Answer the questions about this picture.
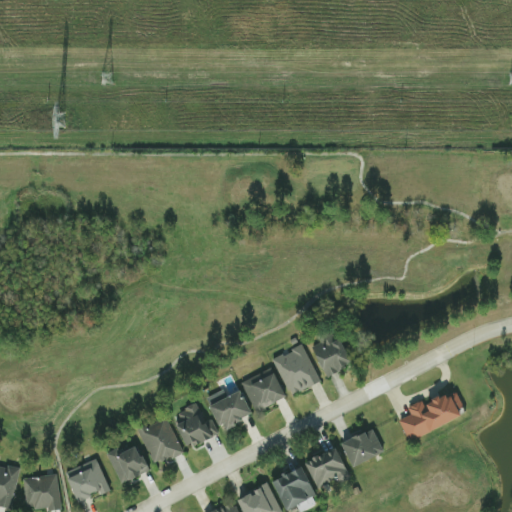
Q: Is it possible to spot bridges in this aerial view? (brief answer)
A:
No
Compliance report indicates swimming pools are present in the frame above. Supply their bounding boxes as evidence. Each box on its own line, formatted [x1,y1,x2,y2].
[218,376,240,398]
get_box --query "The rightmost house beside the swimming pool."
[243,368,286,413]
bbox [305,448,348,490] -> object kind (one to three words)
house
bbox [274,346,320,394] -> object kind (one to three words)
house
